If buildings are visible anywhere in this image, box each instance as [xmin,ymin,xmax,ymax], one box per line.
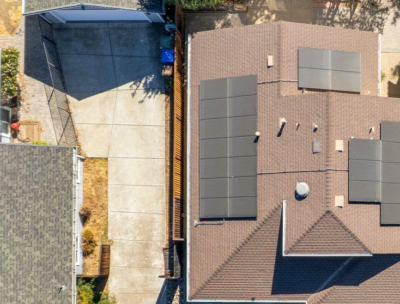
[0,45,85,304]
[20,0,168,25]
[184,20,400,304]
